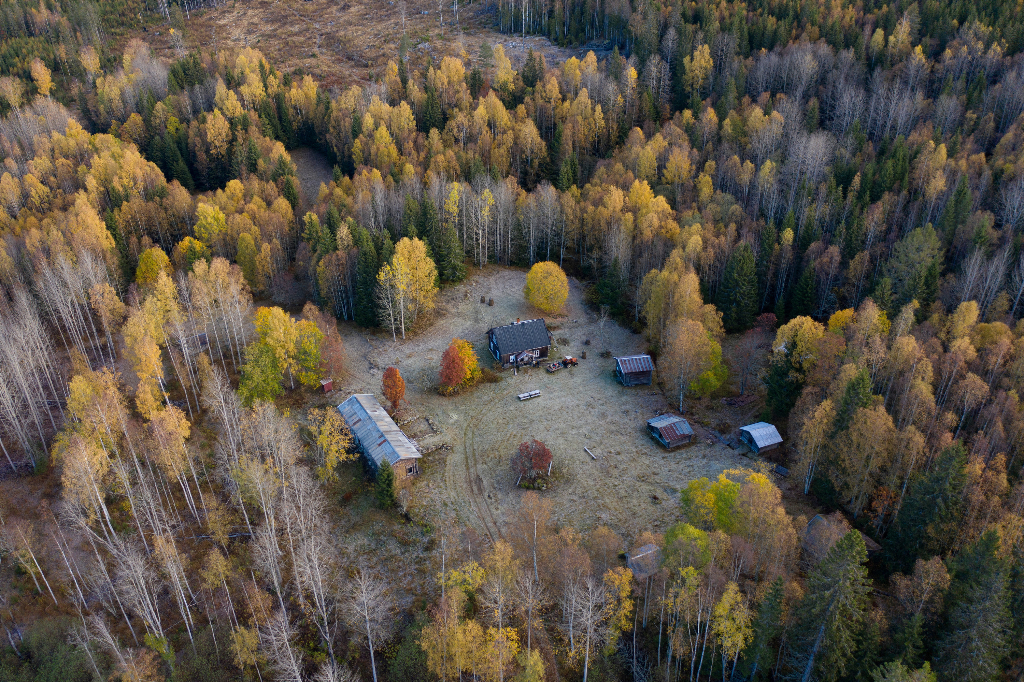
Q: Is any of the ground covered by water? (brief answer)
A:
No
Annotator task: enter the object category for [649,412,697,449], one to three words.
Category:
shed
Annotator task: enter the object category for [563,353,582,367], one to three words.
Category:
work vehicle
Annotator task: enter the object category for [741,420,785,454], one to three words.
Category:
shed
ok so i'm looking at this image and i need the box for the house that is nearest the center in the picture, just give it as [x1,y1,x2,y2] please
[486,316,551,369]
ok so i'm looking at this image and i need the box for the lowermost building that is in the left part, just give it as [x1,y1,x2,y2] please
[338,393,419,480]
